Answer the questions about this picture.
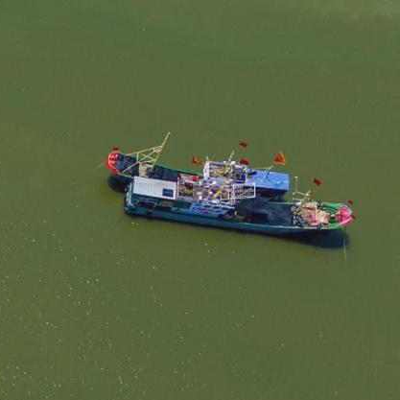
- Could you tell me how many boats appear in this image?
2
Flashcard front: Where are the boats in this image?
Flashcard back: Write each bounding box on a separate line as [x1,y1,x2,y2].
[73,131,291,199]
[126,169,354,257]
